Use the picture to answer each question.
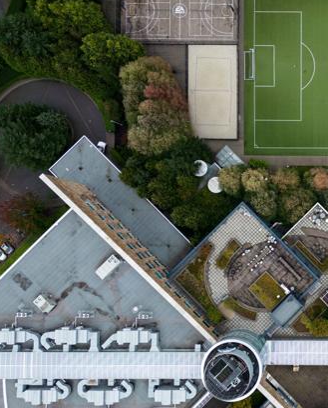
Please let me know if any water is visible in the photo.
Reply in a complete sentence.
No, the scene doesn't show any water.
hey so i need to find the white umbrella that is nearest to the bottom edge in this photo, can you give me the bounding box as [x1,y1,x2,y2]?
[208,177,223,193]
